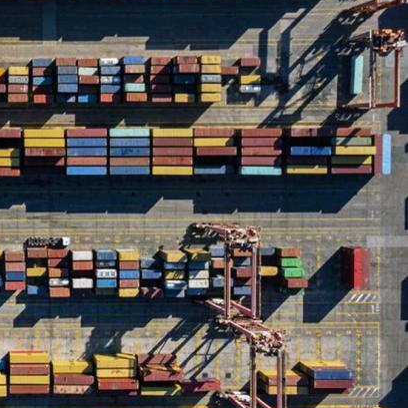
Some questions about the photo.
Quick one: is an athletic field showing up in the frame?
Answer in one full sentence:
No, I find no athletic field anywhere in the image.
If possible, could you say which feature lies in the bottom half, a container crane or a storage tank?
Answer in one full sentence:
Looking in the bottom half, you will find a container crane.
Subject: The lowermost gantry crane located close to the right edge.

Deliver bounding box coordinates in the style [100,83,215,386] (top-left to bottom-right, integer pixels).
[326,25,408,113]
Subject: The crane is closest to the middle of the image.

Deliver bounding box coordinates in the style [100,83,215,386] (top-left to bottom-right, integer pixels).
[197,222,265,321]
